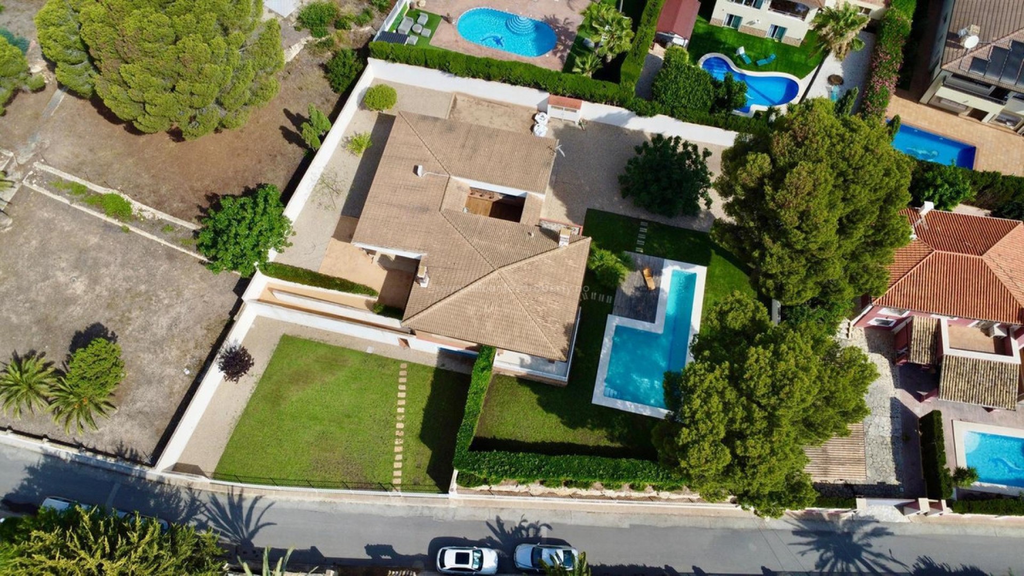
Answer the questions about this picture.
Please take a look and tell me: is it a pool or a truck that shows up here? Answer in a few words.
pool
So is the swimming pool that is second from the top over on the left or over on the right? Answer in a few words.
right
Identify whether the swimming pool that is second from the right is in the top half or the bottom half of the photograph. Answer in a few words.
top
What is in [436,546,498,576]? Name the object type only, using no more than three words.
car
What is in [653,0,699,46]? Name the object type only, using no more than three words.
shed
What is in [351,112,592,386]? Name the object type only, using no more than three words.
house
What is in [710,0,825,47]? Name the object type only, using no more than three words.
house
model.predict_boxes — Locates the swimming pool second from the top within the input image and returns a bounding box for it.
[707,57,798,105]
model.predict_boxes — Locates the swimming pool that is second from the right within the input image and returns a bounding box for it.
[886,121,976,168]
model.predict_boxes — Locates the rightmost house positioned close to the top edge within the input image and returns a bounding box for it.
[922,0,1024,132]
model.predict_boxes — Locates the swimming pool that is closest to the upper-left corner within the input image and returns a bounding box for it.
[457,7,557,56]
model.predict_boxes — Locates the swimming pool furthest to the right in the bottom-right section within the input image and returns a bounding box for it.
[966,431,1024,488]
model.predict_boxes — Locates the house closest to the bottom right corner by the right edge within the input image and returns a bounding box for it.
[861,203,1024,418]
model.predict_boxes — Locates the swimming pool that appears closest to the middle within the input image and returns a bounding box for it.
[604,270,697,409]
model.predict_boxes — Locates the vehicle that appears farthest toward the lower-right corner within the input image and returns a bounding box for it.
[515,542,578,574]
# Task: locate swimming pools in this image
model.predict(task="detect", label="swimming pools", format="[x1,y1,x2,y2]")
[457,7,557,56]
[707,57,798,105]
[886,121,976,168]
[966,431,1024,488]
[604,270,697,409]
